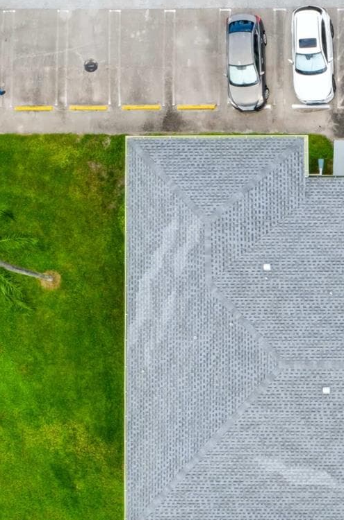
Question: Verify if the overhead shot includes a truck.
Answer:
No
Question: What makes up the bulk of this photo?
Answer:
buildings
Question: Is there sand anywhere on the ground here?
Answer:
No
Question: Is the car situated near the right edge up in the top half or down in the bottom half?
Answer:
top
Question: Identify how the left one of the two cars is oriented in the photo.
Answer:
up and down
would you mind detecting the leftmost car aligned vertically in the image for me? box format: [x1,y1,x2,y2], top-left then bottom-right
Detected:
[220,13,270,115]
